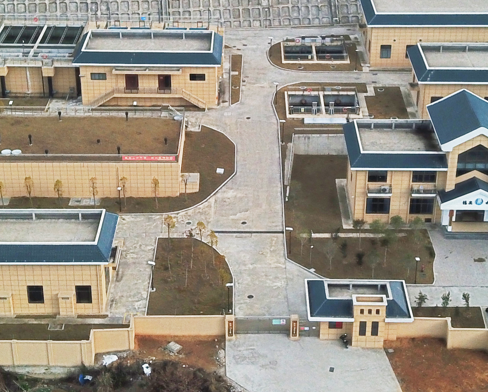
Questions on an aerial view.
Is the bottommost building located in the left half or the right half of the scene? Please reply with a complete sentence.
The bottommost building appears in the right half of the scene.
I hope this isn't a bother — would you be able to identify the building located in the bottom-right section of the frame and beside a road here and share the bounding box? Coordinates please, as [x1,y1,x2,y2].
[305,282,415,346]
